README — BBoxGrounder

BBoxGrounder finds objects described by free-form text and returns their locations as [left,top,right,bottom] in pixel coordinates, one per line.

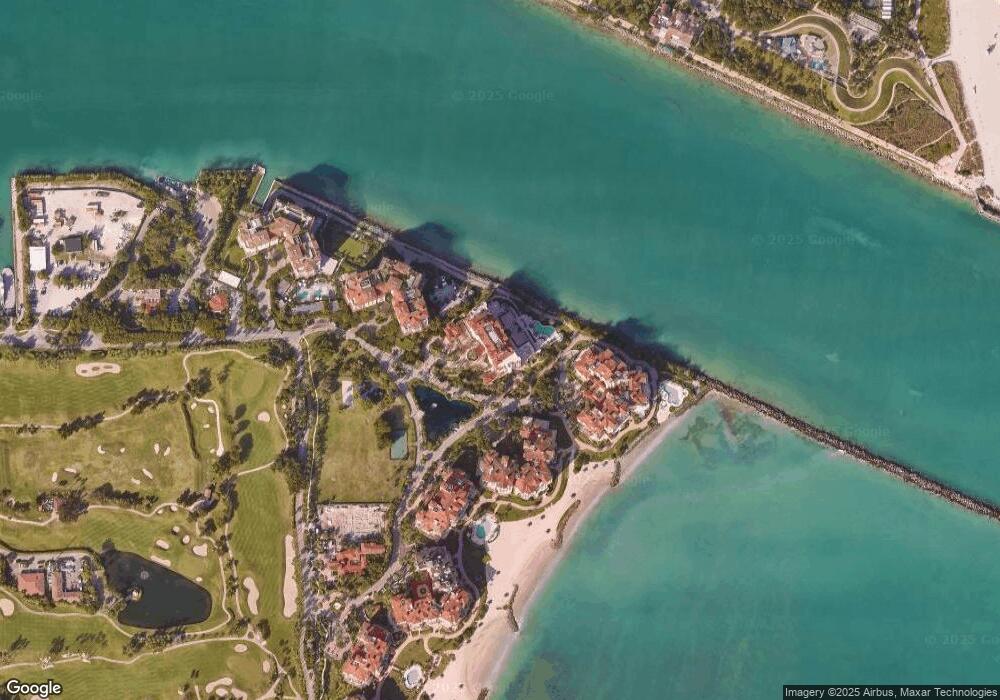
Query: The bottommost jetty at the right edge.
[693,372,1000,519]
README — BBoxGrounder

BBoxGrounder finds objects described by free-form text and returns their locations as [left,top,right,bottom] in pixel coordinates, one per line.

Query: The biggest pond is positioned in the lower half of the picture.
[101,546,211,628]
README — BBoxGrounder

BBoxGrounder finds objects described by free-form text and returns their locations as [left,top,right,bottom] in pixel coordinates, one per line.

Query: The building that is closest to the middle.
[441,302,521,387]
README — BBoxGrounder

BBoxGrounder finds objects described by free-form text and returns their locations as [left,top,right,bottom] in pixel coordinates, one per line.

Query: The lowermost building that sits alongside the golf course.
[340,620,393,695]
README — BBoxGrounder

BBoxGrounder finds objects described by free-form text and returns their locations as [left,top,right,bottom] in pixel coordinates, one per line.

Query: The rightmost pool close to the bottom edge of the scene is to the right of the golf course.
[405,665,423,688]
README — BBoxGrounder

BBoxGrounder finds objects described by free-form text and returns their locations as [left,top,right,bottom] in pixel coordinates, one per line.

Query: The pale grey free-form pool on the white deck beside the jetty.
[657,380,688,425]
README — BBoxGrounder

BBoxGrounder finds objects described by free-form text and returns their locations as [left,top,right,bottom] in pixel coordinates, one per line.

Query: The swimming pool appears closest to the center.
[530,317,561,344]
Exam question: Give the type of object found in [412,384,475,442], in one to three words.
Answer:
pond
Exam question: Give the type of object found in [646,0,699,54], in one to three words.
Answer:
house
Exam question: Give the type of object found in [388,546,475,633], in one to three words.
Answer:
building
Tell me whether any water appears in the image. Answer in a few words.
Yes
